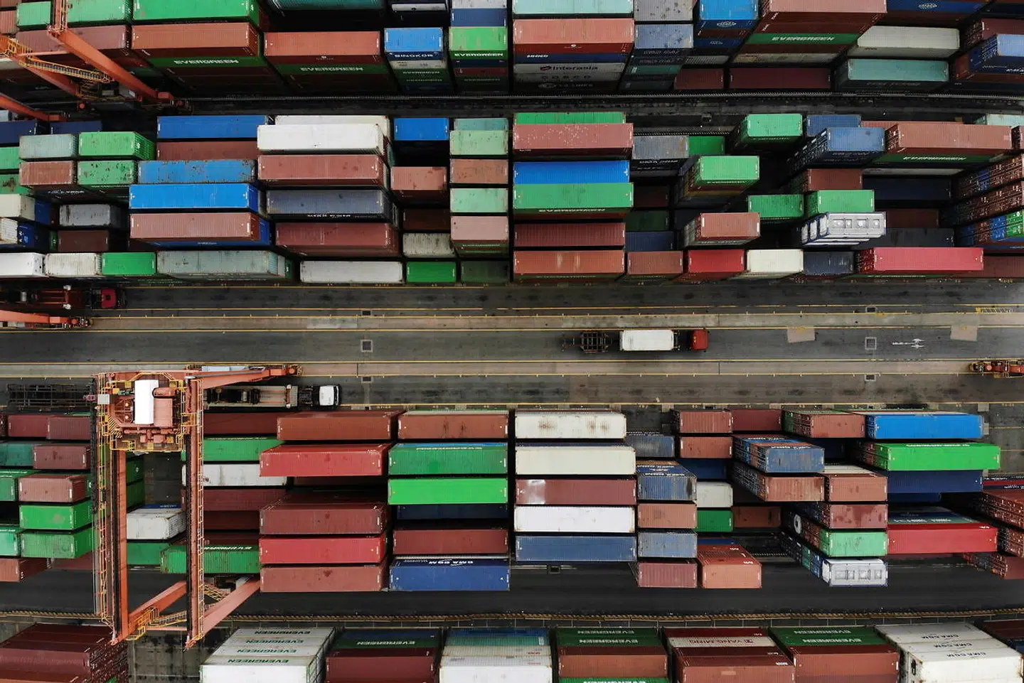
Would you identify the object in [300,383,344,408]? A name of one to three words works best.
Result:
truck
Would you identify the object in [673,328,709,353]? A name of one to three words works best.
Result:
truck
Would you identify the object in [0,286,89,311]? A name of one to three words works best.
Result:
trailer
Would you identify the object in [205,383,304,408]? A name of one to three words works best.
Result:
trailer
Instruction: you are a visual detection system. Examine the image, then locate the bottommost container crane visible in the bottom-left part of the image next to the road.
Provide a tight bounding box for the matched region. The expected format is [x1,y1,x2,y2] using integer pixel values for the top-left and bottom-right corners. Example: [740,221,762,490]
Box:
[93,363,303,662]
